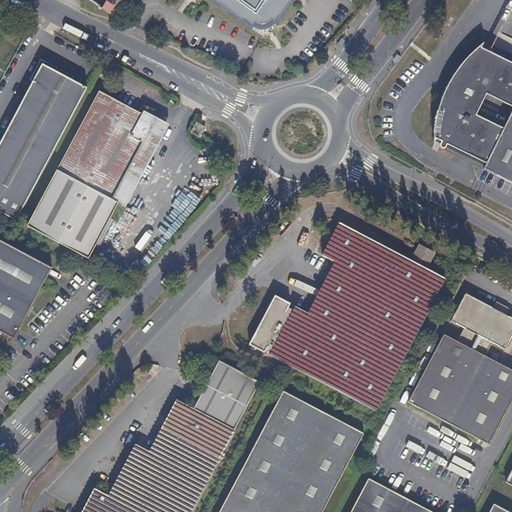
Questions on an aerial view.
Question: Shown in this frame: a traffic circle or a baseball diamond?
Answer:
traffic circle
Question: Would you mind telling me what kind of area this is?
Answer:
industrial area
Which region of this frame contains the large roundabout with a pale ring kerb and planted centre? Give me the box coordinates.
[254,86,350,180]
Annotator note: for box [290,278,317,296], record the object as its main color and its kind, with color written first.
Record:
white vehicle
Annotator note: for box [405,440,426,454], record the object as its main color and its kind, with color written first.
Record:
white vehicle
